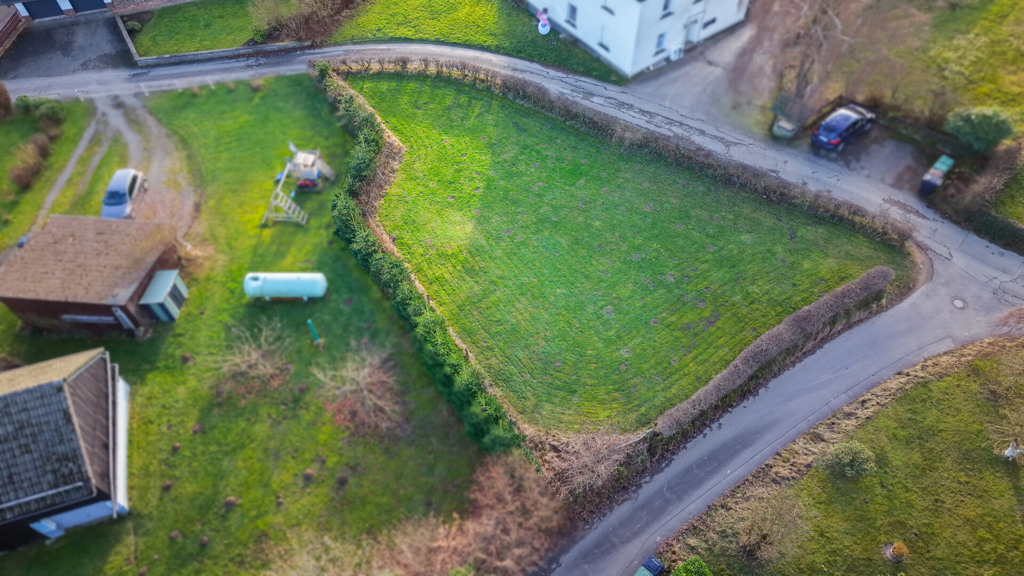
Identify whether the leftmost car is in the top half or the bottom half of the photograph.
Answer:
top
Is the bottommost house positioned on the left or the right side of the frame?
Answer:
left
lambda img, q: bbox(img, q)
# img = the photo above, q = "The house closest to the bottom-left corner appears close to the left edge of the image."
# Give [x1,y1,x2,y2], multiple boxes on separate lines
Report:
[0,347,129,550]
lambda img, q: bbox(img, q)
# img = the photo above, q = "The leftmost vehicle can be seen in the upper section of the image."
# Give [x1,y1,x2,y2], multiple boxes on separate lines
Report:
[93,170,144,214]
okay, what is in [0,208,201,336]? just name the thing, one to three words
shed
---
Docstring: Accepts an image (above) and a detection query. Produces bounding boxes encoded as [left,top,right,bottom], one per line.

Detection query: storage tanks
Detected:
[243,275,327,304]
